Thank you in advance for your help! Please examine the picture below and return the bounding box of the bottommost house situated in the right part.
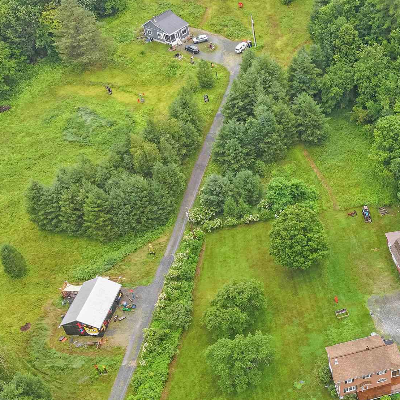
[326,335,400,400]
